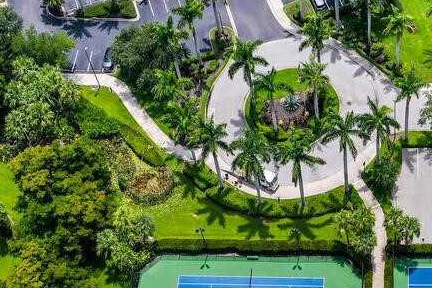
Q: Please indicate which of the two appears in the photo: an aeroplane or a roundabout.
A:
roundabout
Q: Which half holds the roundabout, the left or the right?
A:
right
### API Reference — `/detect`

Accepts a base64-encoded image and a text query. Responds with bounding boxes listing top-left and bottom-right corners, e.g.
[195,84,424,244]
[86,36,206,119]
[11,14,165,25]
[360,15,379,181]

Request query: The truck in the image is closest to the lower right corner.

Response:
[253,173,281,194]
